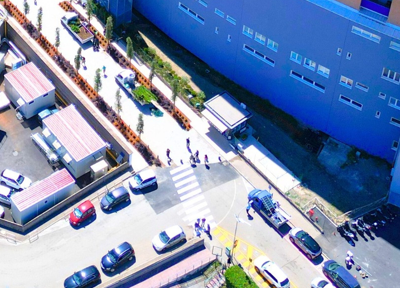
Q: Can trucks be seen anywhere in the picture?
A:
Yes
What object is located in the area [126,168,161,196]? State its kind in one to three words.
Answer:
car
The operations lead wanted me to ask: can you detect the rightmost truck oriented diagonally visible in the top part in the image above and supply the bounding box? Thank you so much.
[113,70,155,106]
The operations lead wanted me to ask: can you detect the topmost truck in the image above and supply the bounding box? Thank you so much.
[61,9,93,40]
